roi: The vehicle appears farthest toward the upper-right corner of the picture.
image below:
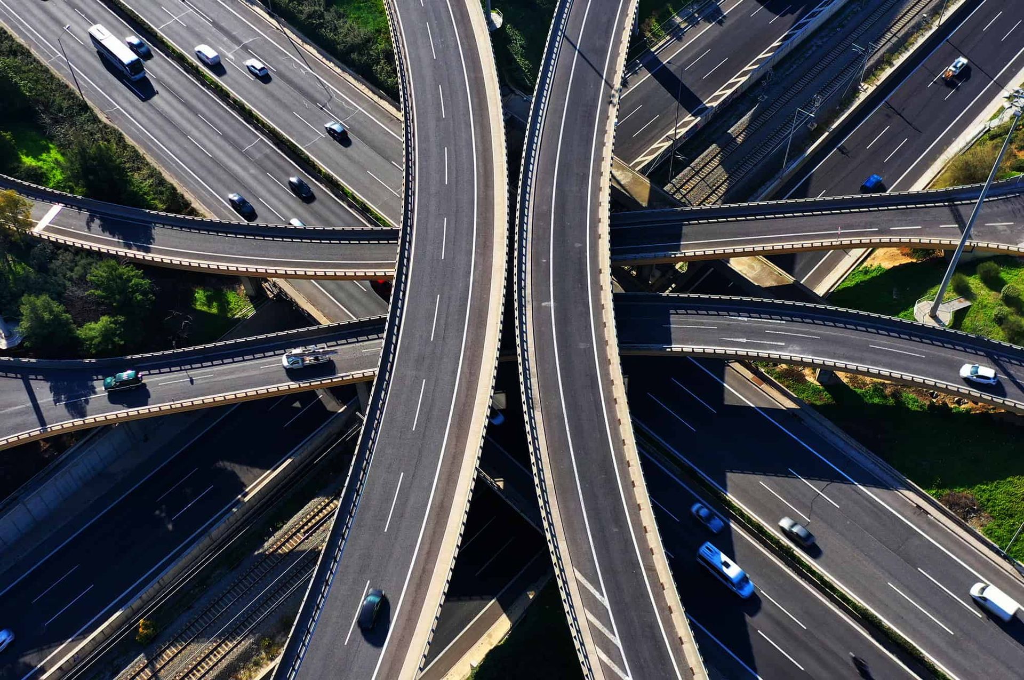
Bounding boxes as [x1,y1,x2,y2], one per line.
[941,61,967,82]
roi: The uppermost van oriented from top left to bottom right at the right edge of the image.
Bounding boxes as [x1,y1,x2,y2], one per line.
[965,581,1024,630]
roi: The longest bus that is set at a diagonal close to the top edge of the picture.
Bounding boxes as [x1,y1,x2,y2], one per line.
[88,28,147,83]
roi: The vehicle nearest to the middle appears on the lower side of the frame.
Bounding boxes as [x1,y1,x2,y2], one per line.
[489,402,510,429]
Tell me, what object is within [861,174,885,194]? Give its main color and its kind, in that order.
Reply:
blue car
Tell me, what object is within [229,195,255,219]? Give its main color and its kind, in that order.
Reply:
black car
